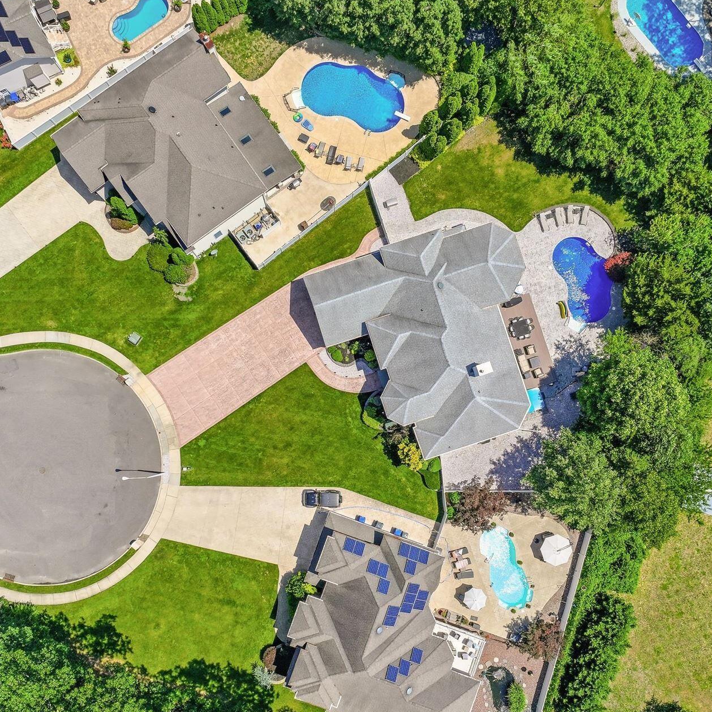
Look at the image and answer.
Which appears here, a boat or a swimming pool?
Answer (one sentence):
There is a swimming pool in the scene.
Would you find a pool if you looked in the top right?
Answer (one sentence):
Yes, a pool is visible in the top right.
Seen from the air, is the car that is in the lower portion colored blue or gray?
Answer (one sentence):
The car that is in the lower portion is gray.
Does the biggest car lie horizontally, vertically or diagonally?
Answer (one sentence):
What the image shows is the biggest car lying horizontally.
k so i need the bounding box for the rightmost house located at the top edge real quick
[51,24,302,255]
